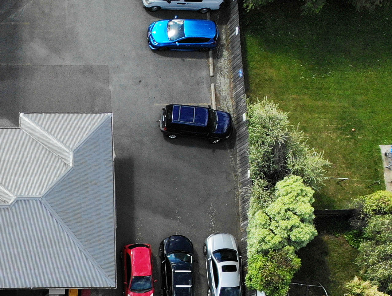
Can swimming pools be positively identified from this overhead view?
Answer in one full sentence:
No, the picture doesn't show any swimming pool.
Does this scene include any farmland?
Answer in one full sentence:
No, there's no farmland in this view.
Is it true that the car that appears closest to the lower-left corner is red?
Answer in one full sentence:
Yes, the car that appears closest to the lower-left corner is indeed red.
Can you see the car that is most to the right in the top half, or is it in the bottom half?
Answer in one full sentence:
You can find the car that is most to the right in the bottom half.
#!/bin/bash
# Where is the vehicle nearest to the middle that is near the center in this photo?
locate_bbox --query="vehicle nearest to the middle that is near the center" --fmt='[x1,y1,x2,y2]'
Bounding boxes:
[163,101,237,141]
